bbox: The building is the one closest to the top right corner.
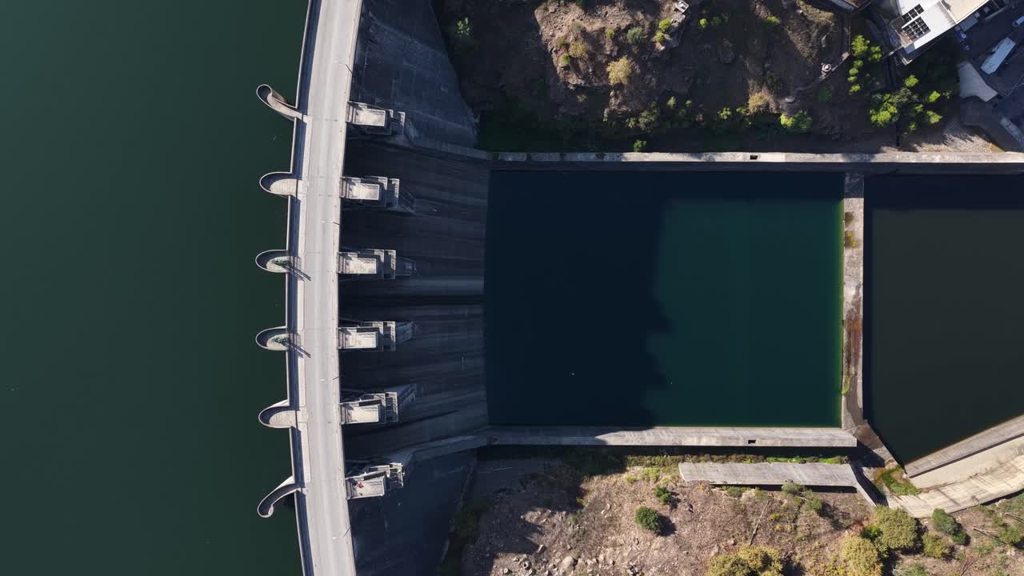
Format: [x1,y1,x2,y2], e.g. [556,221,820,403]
[878,0,990,67]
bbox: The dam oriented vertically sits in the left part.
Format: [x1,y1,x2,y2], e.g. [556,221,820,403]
[256,0,500,576]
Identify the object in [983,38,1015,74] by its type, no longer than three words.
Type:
bus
